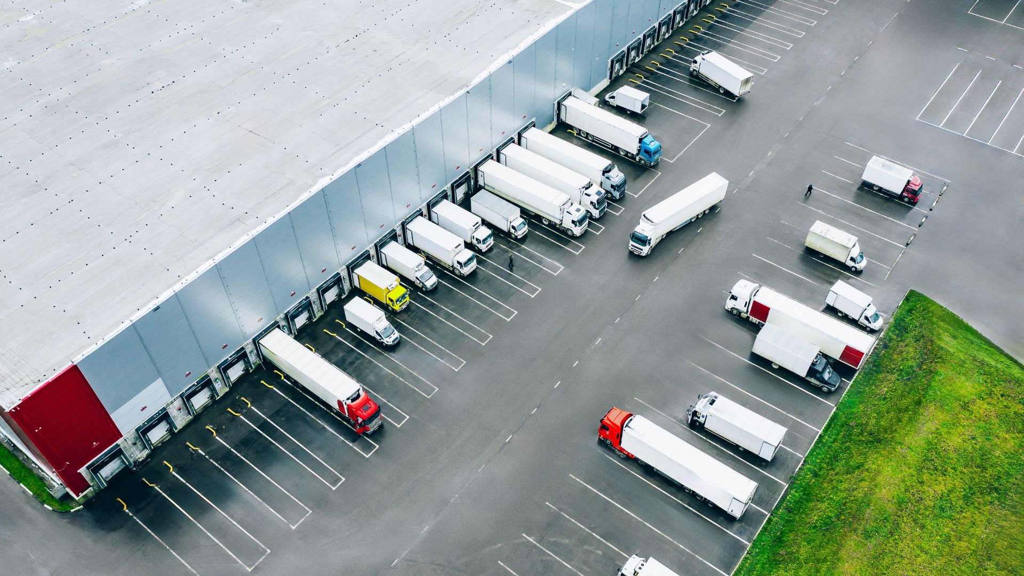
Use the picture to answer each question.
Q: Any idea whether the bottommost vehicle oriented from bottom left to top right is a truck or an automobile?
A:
truck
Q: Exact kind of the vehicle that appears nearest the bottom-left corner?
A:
truck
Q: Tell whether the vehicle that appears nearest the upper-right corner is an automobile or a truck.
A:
truck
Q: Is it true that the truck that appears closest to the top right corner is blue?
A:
No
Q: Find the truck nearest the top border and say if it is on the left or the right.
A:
right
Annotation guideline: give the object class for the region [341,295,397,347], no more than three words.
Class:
van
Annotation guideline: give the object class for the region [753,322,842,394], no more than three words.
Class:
van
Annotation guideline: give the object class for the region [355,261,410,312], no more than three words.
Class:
truck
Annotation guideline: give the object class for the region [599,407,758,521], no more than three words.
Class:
truck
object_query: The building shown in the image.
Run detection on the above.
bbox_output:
[0,0,718,510]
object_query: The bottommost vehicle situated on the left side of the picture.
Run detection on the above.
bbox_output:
[259,329,384,437]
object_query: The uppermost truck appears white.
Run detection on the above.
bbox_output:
[686,54,748,99]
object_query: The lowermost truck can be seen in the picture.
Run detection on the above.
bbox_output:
[611,547,679,576]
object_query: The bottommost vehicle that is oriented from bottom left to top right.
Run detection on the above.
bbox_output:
[627,167,723,255]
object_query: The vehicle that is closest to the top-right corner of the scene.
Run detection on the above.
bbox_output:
[861,156,927,204]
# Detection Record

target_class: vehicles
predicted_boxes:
[341,295,397,347]
[470,188,529,238]
[861,156,927,204]
[433,198,494,251]
[605,85,649,117]
[259,329,384,437]
[686,54,748,99]
[482,157,592,235]
[599,407,758,521]
[725,282,875,374]
[523,126,629,199]
[561,97,664,165]
[805,220,866,271]
[824,280,883,330]
[627,167,723,255]
[382,242,435,290]
[355,261,410,312]
[753,322,842,394]
[611,547,679,576]
[689,391,786,462]
[409,216,478,276]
